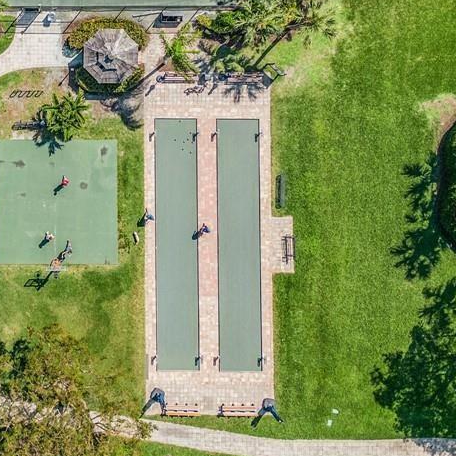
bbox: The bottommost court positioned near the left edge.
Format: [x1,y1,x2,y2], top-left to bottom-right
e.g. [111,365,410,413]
[0,139,117,265]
